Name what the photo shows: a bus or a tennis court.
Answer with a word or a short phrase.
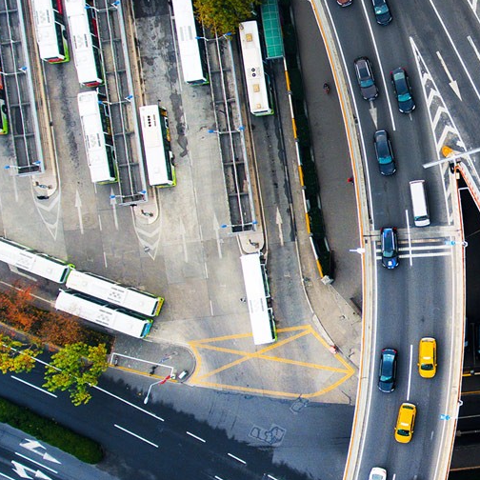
bus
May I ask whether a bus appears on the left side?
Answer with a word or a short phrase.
Yes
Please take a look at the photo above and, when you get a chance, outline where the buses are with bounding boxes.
[77,88,117,185]
[0,235,79,286]
[35,0,74,66]
[67,268,172,318]
[68,0,105,89]
[139,102,177,187]
[174,0,210,87]
[241,249,281,343]
[57,289,161,341]
[238,18,276,118]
